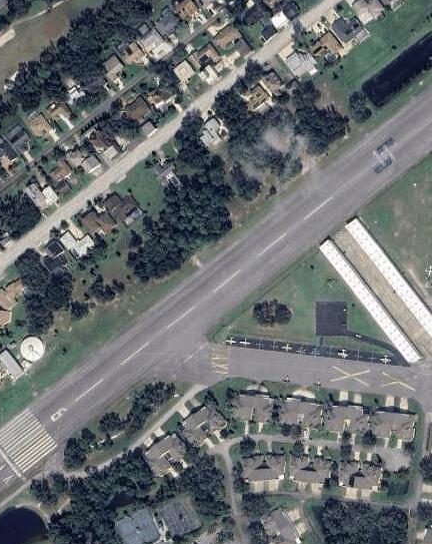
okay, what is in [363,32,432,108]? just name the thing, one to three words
pond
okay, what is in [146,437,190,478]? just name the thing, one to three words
house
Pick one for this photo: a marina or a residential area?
residential area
